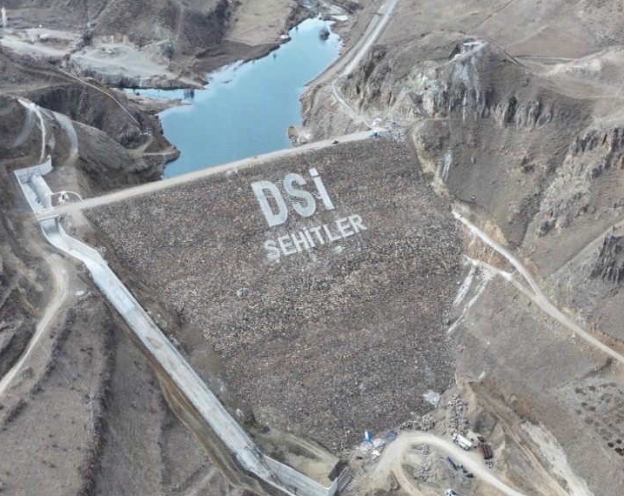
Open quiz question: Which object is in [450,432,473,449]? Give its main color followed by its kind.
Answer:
white vehicle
